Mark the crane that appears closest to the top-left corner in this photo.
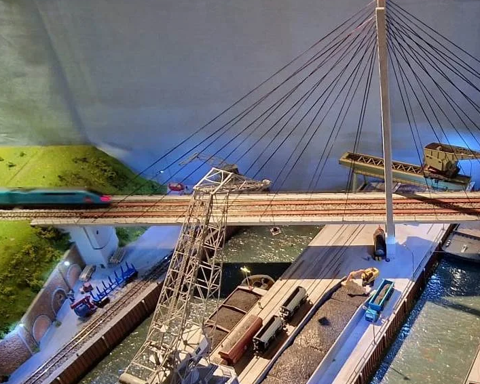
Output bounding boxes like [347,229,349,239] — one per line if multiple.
[184,143,237,193]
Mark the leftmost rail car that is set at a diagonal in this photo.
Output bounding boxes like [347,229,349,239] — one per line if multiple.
[226,315,265,370]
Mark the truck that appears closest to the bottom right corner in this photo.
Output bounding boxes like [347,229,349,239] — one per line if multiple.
[365,285,392,320]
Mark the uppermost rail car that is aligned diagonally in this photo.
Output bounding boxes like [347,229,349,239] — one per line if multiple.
[281,286,308,320]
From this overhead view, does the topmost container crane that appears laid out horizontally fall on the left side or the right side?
right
